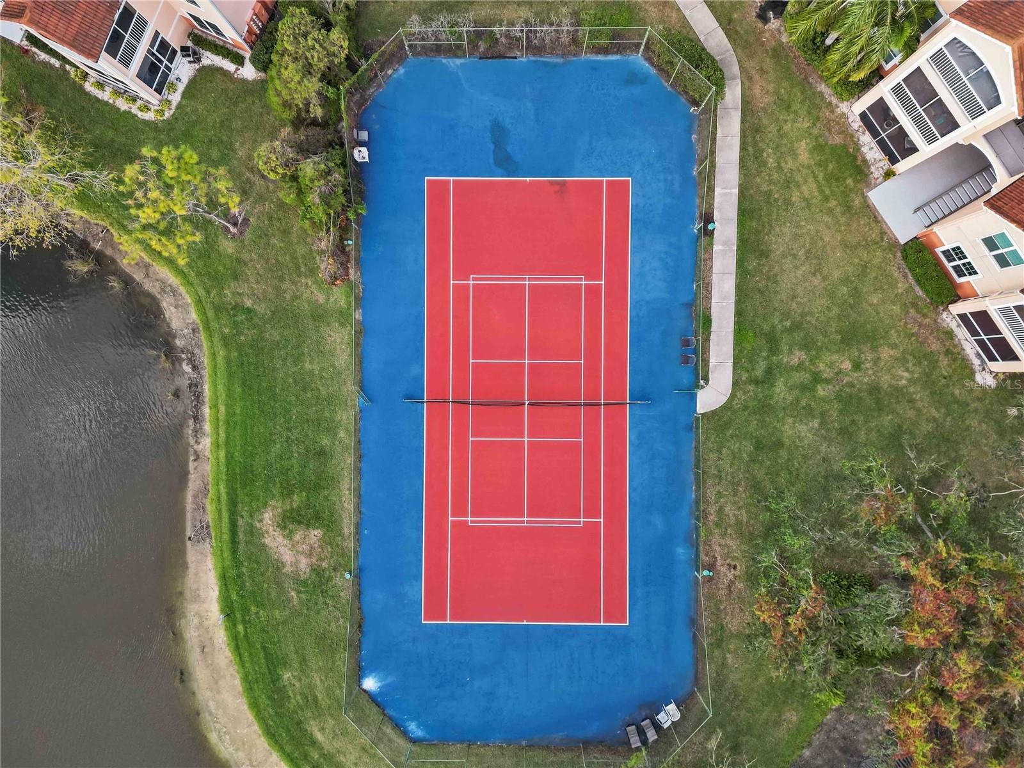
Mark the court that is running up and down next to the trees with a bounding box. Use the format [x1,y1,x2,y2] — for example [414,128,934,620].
[360,56,697,745]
